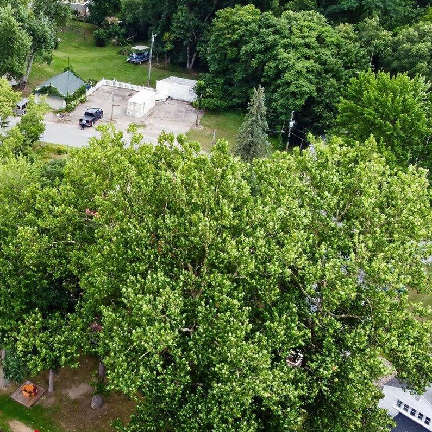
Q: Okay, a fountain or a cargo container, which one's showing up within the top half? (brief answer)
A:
cargo container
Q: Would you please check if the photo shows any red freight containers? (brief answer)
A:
No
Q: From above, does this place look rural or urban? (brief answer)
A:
rural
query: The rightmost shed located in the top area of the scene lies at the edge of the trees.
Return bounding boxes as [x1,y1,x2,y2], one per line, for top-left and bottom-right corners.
[156,70,213,102]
